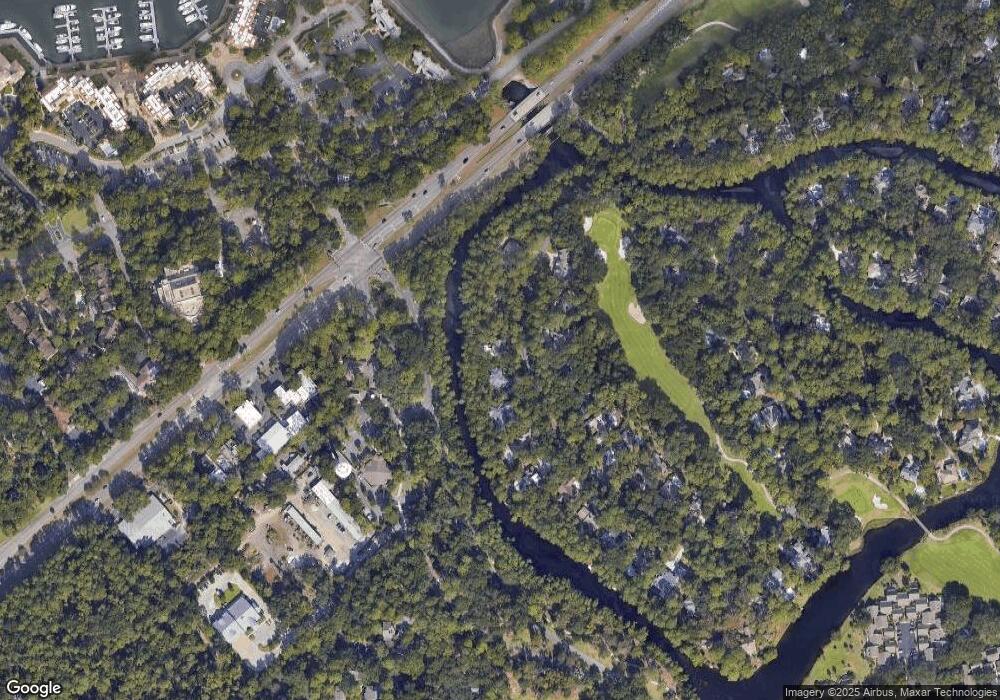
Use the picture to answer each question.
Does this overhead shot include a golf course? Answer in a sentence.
Yes, this view includes a golf course.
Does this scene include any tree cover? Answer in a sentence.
Yes, some tree cover is visible.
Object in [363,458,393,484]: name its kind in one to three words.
building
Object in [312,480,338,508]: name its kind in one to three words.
shed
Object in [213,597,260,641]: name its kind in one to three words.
building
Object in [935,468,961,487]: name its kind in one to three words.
house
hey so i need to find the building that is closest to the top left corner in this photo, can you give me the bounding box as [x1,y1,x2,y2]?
[0,51,28,85]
